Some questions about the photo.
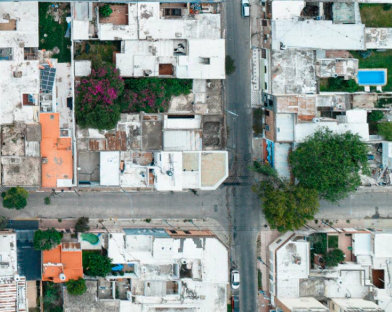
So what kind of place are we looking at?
residential area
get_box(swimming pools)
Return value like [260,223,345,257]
[357,69,388,87]
[79,233,103,249]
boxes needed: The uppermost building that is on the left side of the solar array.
[0,1,39,86]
